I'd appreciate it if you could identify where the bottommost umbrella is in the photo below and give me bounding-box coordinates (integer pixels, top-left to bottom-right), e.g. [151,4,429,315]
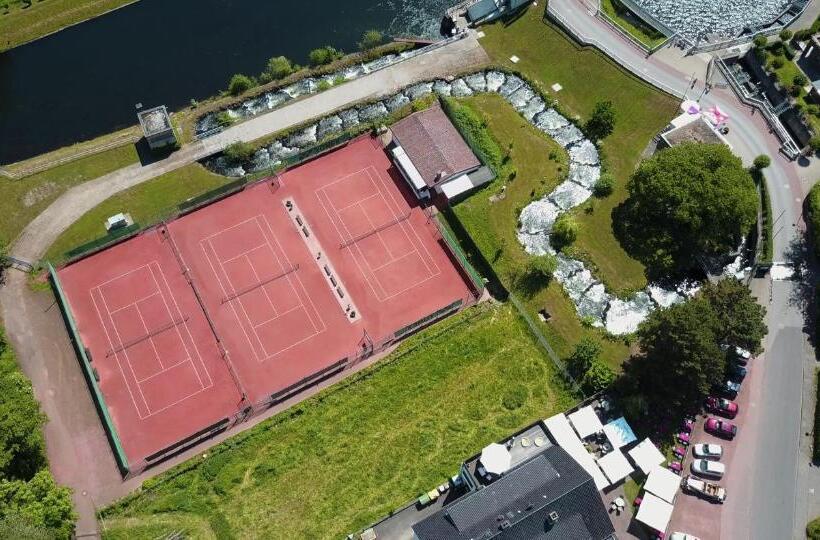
[636,492,673,534]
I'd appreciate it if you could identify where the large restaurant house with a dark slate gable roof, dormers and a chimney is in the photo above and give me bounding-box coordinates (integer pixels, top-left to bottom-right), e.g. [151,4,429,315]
[412,447,612,540]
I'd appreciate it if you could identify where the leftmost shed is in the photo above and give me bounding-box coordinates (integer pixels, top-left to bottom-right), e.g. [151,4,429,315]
[143,105,182,149]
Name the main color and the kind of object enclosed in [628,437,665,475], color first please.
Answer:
white umbrella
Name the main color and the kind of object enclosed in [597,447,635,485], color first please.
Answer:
white umbrella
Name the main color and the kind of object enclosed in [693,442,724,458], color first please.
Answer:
white car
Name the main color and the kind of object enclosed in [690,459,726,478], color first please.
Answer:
white car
